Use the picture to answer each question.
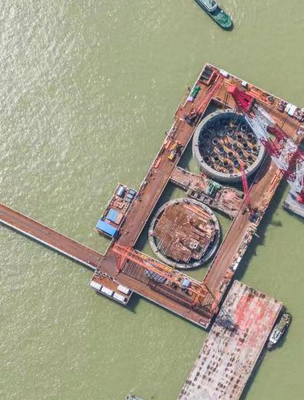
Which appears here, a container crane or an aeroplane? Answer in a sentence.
The one in the frame is a container crane.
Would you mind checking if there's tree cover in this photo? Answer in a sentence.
No, the scene doesn't show any tree cover.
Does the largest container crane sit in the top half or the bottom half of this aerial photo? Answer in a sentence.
It is in the bottom half that the largest container crane appears.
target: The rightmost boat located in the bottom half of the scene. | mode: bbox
[261,309,291,354]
